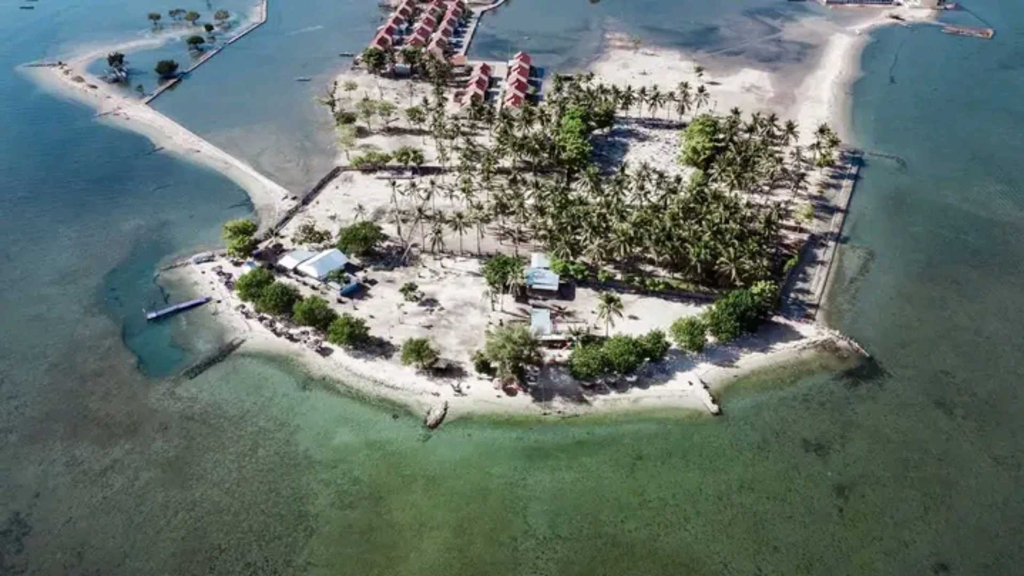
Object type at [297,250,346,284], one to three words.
shed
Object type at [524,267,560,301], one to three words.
house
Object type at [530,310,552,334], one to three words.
shed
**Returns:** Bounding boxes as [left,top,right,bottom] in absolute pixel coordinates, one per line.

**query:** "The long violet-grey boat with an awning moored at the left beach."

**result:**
[144,295,211,318]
